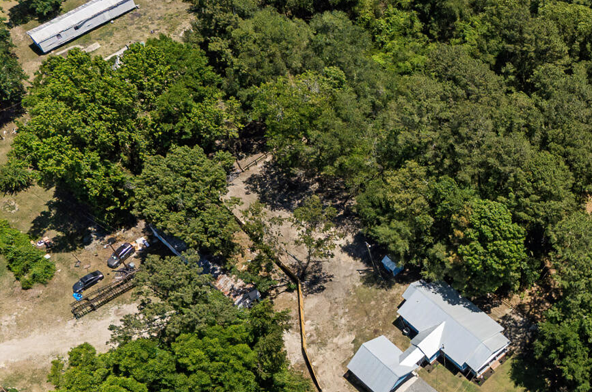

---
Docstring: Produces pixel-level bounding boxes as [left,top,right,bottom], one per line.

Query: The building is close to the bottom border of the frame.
[346,277,511,392]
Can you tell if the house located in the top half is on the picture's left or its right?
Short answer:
left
